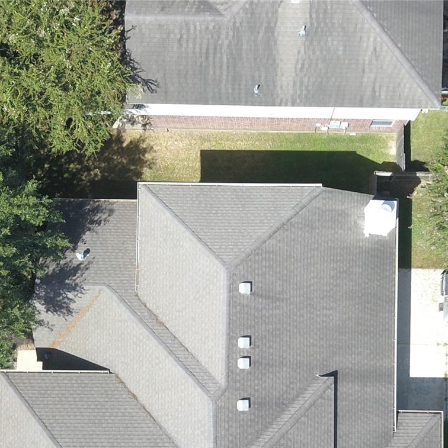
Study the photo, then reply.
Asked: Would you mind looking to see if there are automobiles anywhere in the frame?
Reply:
No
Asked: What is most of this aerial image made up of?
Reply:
buildings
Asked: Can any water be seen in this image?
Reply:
No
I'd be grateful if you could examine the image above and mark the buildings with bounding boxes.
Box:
[121,0,444,135]
[0,181,446,448]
